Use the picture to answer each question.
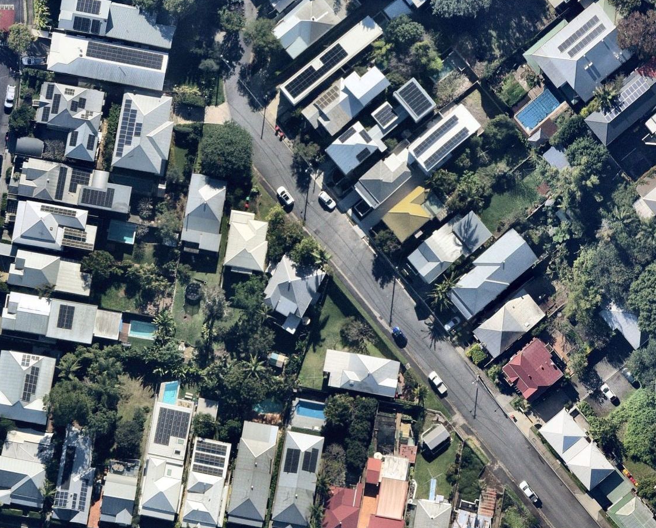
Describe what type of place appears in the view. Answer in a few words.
residential area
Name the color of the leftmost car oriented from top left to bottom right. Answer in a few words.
white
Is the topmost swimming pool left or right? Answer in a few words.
right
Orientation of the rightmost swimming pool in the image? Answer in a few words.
at an angle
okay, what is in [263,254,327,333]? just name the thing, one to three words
house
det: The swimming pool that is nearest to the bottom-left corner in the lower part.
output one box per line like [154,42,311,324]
[162,380,179,405]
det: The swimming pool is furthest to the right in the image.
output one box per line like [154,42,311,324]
[513,86,562,133]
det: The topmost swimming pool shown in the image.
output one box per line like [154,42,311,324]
[444,50,468,77]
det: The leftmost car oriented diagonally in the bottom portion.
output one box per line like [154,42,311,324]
[390,323,408,345]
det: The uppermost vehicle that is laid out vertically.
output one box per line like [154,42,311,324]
[3,82,15,109]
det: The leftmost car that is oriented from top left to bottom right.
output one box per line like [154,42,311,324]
[274,184,296,208]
